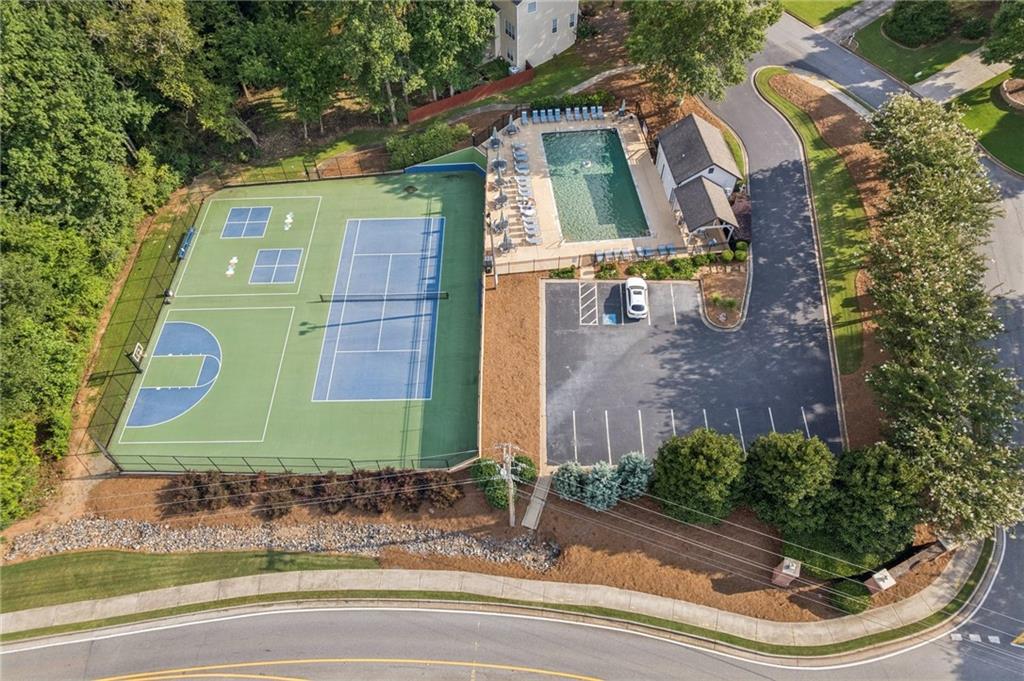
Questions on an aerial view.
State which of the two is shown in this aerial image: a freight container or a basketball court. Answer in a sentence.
There is a basketball court in the scene.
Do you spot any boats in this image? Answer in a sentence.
No, there appears to be no boat in this shot.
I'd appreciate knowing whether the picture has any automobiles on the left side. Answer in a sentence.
No, no automobile can be made out on the left side.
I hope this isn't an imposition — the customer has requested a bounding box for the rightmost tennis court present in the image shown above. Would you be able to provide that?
[311,217,446,401]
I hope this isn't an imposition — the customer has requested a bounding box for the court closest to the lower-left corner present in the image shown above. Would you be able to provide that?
[120,307,294,442]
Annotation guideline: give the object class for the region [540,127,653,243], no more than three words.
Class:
swimming pool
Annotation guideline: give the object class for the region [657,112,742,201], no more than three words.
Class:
building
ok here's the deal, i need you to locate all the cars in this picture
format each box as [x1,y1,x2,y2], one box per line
[626,279,650,320]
